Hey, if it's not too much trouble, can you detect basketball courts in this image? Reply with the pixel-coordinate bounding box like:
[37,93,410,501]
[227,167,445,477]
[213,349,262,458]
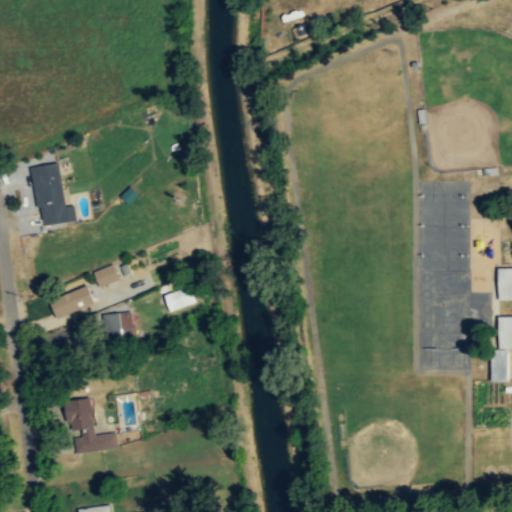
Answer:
[420,182,470,212]
[420,211,470,240]
[420,240,470,270]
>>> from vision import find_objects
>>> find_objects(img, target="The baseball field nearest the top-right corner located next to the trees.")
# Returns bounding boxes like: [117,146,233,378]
[420,30,512,171]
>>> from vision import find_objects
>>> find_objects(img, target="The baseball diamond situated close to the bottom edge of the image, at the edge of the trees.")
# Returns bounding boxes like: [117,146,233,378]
[340,384,464,488]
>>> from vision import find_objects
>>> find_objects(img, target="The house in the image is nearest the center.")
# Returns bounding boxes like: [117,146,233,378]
[165,290,197,311]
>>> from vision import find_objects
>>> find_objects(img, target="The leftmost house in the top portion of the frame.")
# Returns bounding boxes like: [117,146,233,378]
[29,162,76,225]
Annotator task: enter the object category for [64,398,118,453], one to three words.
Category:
house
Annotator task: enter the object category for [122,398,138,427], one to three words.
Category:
swimming pool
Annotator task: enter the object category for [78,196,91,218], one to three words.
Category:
swimming pool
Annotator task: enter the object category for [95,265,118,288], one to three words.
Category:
building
